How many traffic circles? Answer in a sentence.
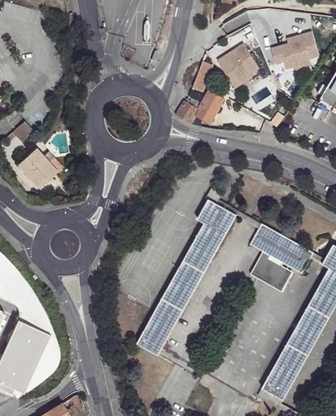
The photo contains 2 traffic circles.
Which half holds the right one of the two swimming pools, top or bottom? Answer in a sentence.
You can find the right one of the two swimming pools in the top half.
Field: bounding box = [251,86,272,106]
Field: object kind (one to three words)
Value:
swimming pool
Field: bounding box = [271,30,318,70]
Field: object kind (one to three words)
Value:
house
